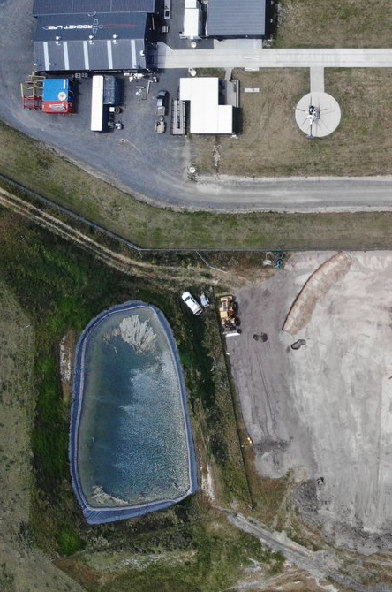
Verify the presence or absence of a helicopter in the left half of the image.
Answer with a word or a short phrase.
No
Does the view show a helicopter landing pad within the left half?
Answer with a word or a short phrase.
No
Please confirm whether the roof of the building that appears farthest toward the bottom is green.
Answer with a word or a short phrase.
No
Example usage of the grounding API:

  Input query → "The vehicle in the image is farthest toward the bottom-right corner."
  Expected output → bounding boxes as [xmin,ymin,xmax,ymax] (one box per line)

[221,295,239,333]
